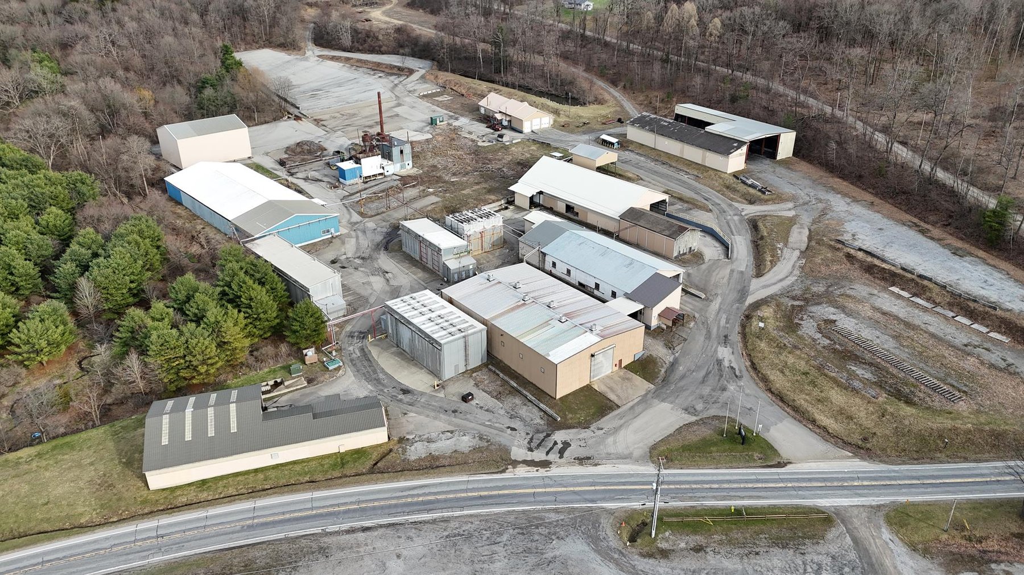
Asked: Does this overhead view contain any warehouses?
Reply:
Yes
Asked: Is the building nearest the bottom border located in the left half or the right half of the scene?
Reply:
left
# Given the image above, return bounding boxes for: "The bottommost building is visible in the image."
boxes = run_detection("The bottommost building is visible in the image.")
[142,383,387,488]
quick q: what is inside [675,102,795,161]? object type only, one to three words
barn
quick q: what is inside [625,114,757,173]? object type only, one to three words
shed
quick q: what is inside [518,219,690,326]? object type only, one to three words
building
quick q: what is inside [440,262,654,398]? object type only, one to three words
warehouse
